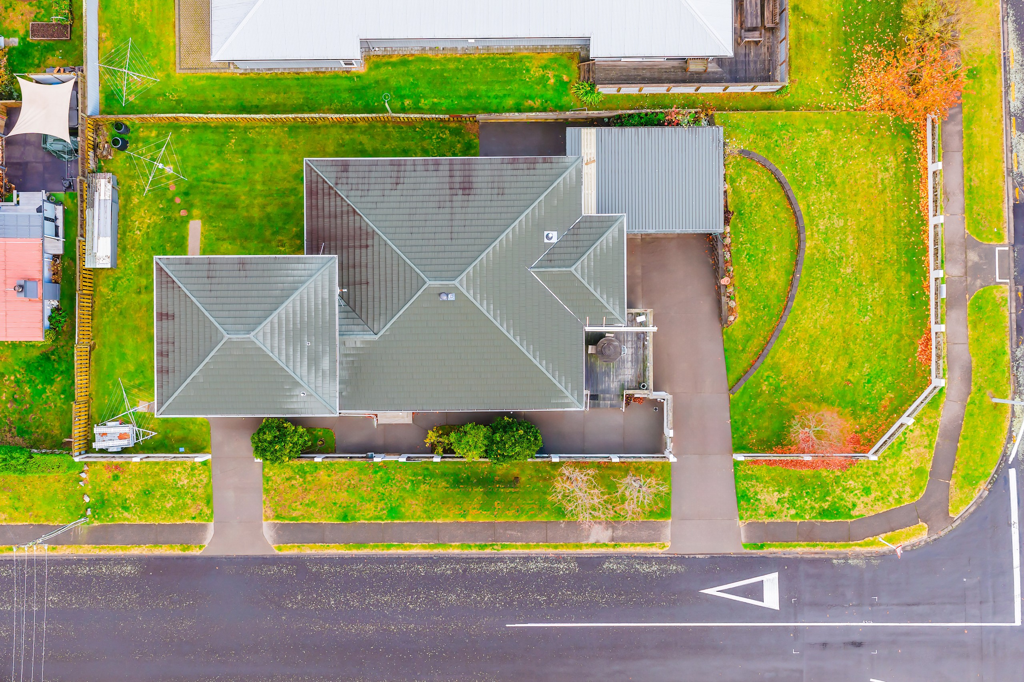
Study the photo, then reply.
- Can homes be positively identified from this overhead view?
Yes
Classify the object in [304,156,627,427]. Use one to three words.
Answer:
house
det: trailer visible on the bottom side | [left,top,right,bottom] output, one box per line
[92,421,158,452]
